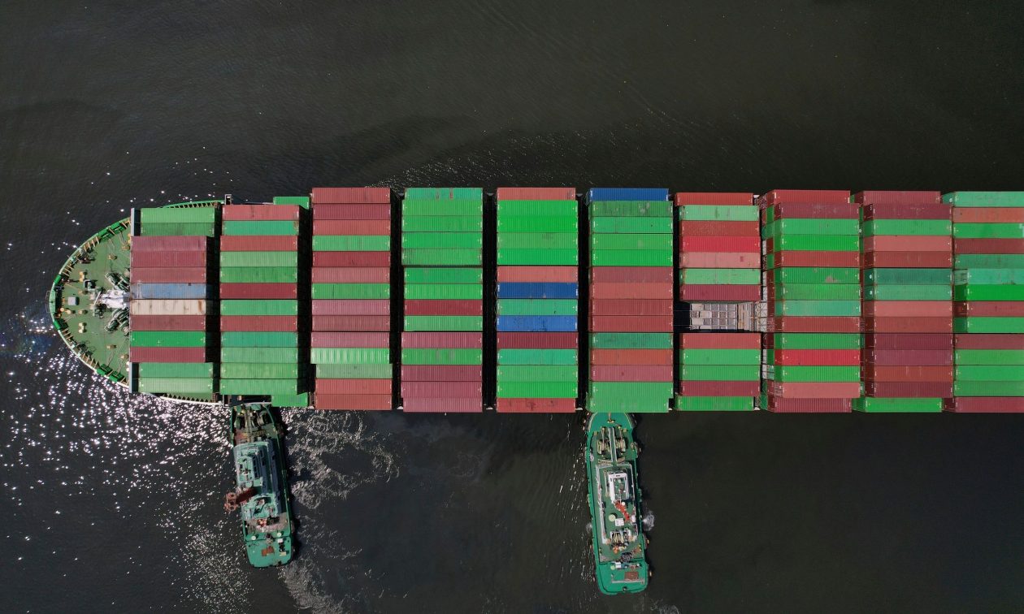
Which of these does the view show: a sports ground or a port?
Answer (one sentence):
This image shows a port.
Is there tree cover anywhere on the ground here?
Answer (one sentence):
No, the scene doesn't show any tree cover.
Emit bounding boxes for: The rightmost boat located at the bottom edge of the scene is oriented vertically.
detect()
[582,408,648,595]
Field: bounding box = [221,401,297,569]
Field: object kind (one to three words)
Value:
boat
